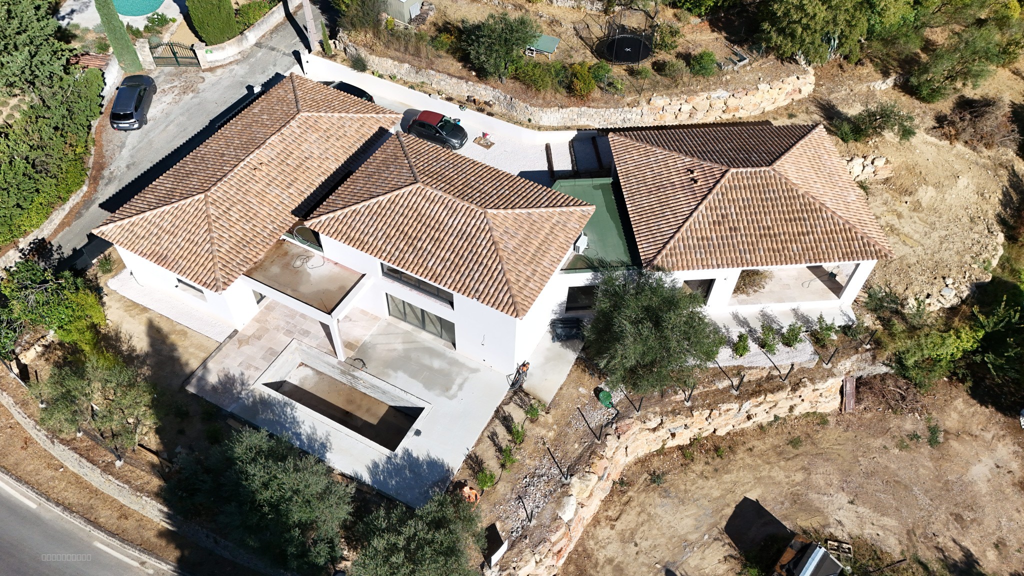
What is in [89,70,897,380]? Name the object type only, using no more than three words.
house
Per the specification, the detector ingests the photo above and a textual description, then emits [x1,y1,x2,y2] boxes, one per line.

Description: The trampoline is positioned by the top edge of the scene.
[594,0,659,71]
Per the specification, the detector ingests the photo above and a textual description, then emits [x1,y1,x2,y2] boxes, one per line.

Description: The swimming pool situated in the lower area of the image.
[253,339,431,459]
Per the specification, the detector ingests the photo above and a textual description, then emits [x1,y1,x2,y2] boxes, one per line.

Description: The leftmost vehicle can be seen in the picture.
[106,79,157,131]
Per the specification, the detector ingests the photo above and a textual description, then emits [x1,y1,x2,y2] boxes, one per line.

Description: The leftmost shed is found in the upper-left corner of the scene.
[70,53,124,90]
